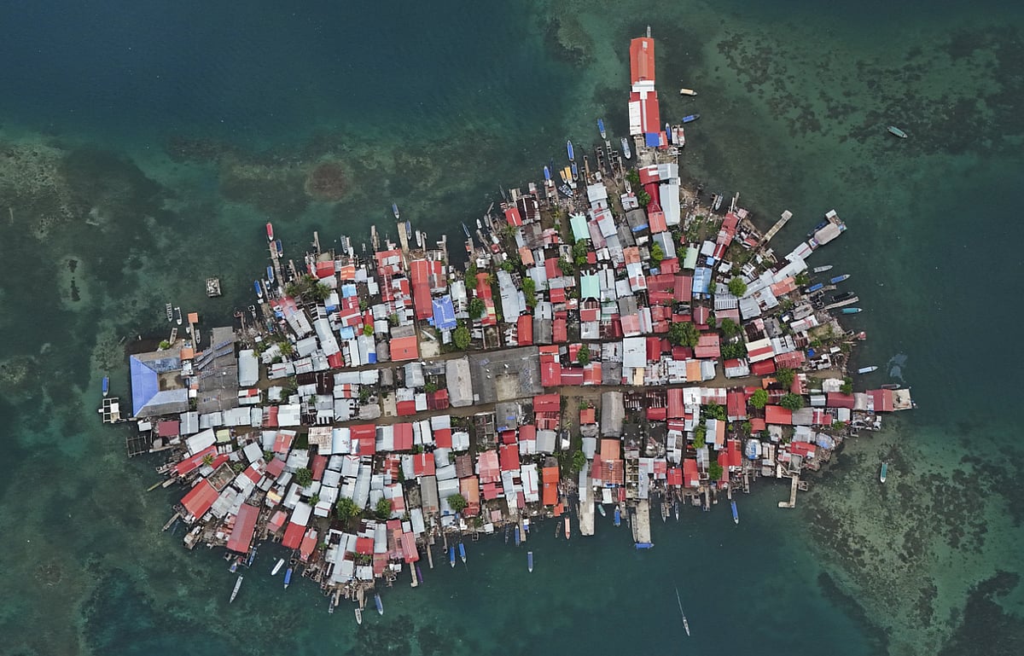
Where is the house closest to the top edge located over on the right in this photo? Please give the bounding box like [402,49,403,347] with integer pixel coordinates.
[628,35,655,84]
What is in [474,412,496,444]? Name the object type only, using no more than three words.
building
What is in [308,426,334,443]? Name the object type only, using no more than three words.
house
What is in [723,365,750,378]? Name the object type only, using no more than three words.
house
